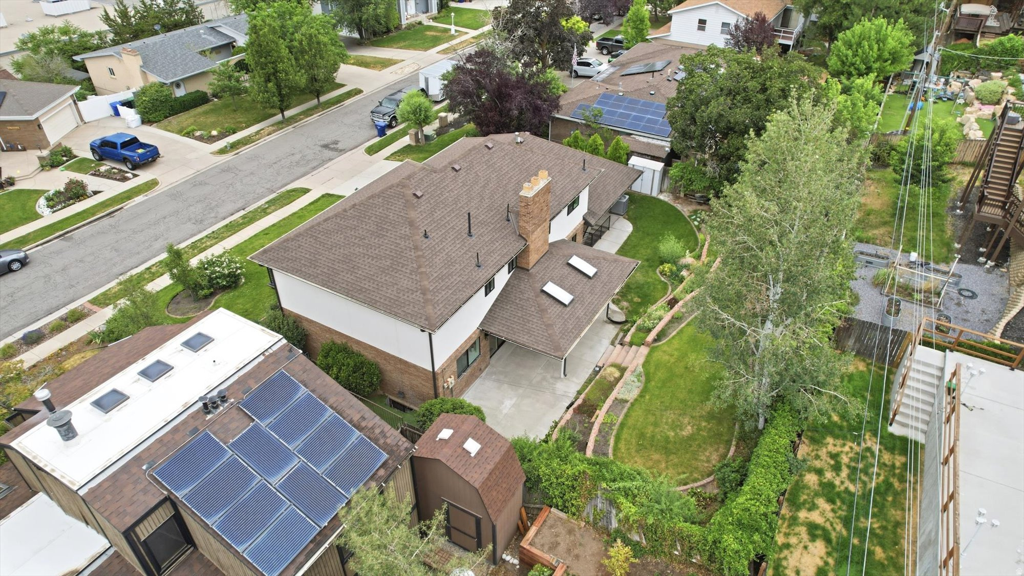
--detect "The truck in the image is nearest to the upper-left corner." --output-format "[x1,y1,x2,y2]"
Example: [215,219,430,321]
[86,124,164,167]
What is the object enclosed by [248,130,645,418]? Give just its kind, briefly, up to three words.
house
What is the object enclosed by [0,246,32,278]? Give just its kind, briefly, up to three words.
car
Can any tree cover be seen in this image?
Yes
